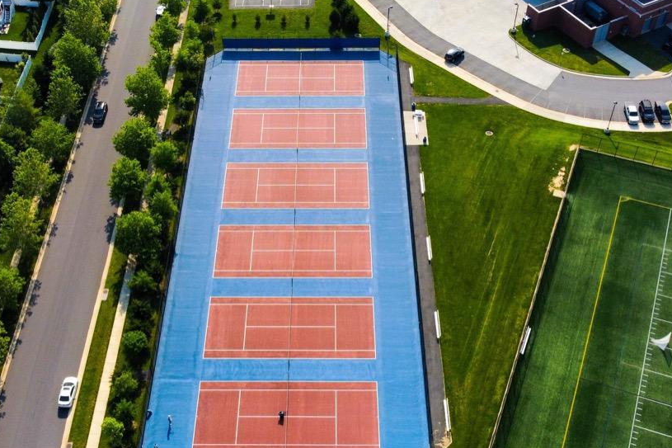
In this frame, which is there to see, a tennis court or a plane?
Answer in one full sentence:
Of the two, only a tennis court appears.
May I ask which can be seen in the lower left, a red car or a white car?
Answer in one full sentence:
The feature located in the lower left is a white car.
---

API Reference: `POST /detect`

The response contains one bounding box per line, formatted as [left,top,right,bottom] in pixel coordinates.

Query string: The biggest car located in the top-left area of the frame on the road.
[92,100,109,123]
